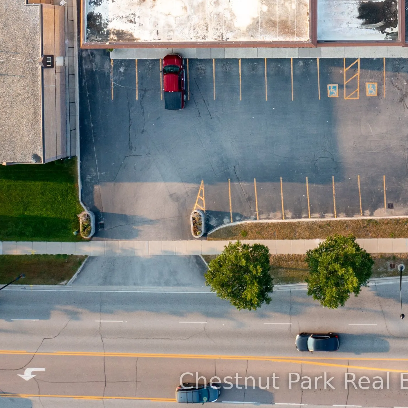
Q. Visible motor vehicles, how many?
3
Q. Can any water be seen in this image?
No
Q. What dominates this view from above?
paved ground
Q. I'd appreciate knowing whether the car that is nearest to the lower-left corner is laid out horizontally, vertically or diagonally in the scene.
horizontally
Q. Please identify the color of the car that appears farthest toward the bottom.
blue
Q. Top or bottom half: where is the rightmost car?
bottom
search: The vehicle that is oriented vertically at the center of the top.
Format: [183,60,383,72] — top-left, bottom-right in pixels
[161,53,186,110]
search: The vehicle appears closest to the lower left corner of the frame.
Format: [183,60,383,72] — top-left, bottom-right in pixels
[174,382,223,406]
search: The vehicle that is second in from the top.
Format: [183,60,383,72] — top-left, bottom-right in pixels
[294,332,341,355]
